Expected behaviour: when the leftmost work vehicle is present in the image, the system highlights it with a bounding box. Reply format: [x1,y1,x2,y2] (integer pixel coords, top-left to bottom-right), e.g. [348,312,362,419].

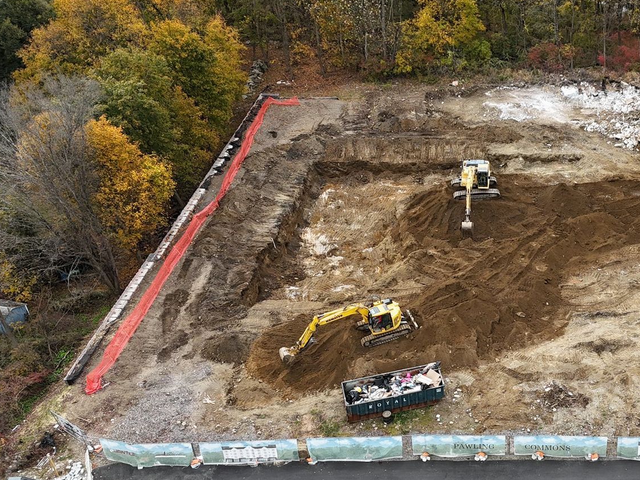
[280,300,427,368]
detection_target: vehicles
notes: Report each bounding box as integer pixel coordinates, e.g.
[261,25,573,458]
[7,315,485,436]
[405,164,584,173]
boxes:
[280,300,427,368]
[453,166,496,227]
